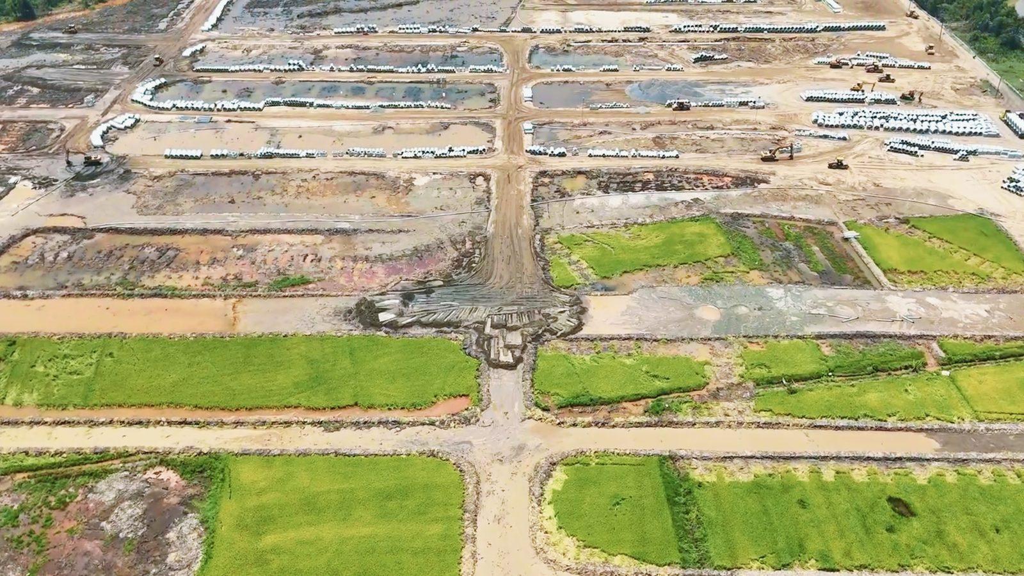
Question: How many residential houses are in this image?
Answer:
0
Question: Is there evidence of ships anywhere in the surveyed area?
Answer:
No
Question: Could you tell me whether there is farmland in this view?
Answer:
Yes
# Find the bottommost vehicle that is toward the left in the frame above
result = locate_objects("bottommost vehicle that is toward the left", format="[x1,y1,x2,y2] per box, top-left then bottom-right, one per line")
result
[64,149,103,166]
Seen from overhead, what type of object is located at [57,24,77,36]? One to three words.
vehicle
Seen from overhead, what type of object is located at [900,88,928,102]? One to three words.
work vehicle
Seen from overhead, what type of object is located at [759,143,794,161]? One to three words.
work vehicle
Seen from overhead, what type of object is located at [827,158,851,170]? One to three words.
vehicle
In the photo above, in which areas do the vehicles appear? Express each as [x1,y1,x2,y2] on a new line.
[827,158,851,170]
[907,8,921,19]
[925,44,936,55]
[64,149,103,166]
[759,143,794,161]
[147,56,164,67]
[851,79,880,93]
[866,63,885,74]
[900,88,928,102]
[669,97,694,112]
[57,24,77,36]
[878,73,898,83]
[829,56,855,69]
